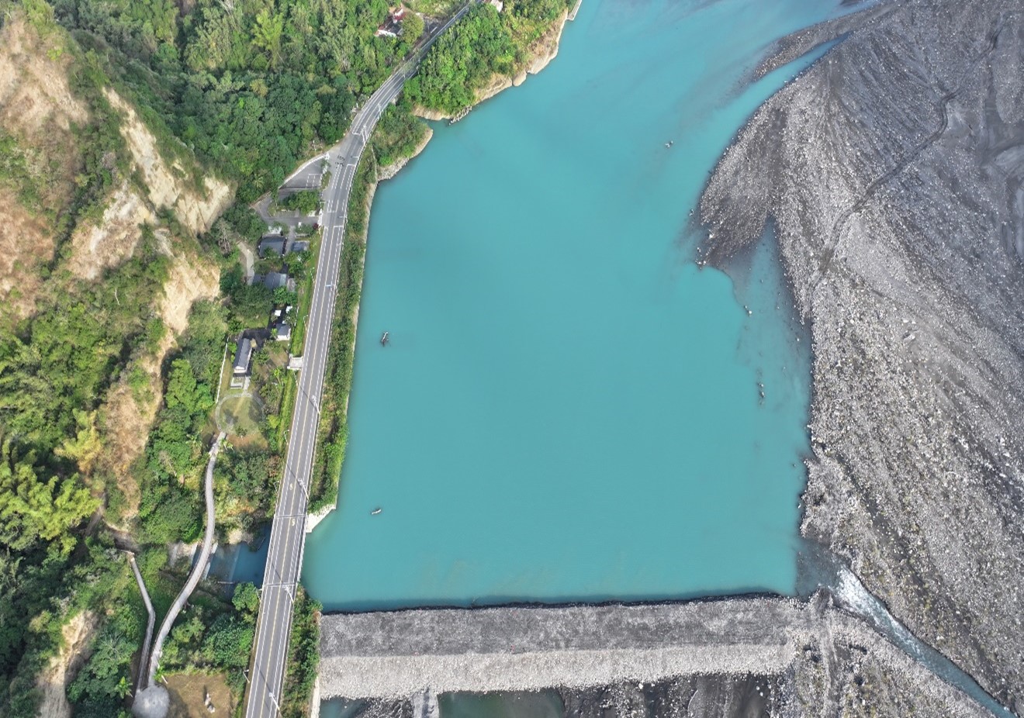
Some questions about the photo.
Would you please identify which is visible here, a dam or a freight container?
dam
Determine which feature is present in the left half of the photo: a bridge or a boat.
bridge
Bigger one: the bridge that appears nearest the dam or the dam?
the dam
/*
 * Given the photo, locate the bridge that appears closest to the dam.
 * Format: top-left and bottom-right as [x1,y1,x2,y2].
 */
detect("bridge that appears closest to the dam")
[260,506,311,594]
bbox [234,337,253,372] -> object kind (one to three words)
house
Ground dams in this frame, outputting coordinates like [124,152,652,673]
[313,591,808,716]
